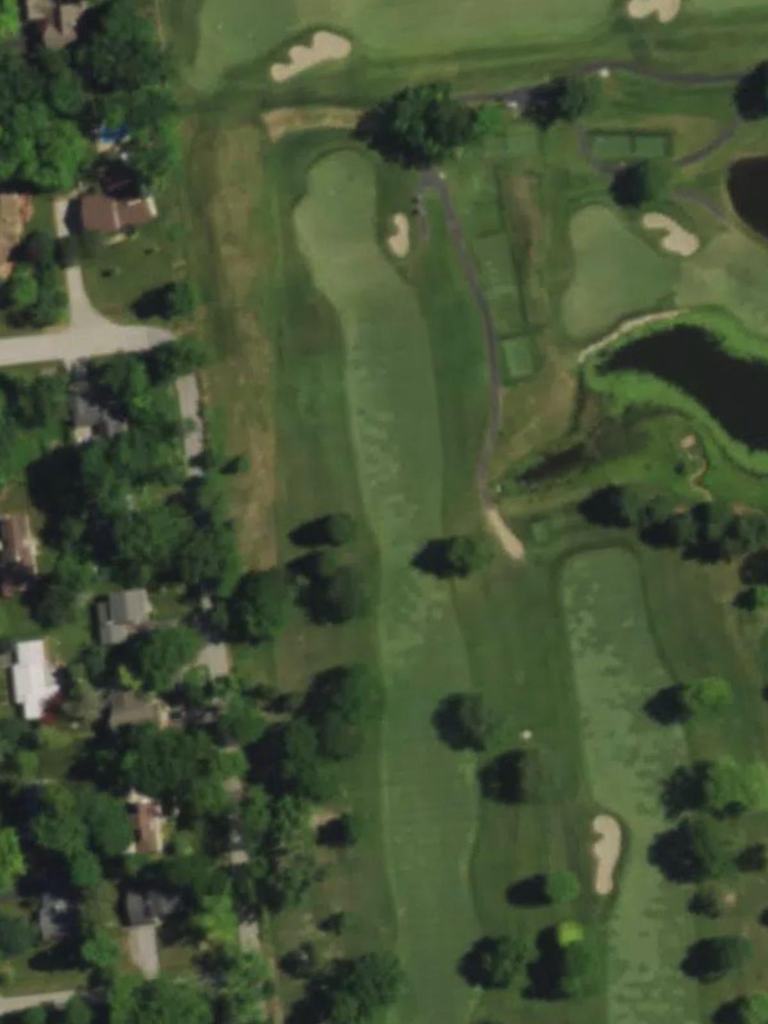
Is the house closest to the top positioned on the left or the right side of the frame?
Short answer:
left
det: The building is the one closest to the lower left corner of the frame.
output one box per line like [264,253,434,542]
[38,895,79,942]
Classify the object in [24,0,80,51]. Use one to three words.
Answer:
house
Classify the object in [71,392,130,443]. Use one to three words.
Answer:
house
